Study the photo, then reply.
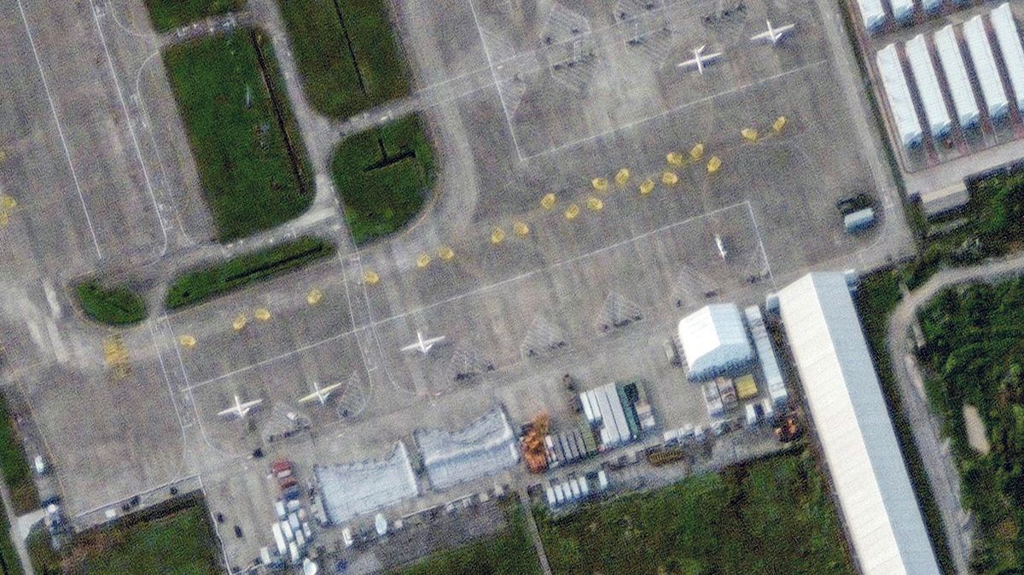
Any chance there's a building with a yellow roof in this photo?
Yes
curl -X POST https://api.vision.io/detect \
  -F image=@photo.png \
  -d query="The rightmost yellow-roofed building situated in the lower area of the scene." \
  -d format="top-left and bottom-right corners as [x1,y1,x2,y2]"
[734,374,759,402]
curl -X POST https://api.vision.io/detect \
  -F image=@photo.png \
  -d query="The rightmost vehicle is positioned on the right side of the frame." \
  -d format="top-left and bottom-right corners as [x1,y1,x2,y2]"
[839,193,875,218]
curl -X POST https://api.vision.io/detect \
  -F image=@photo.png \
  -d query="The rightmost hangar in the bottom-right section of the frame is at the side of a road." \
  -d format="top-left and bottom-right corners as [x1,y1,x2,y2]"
[777,273,940,575]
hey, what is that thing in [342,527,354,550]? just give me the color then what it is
white vehicle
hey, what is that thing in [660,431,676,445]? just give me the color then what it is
white vehicle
